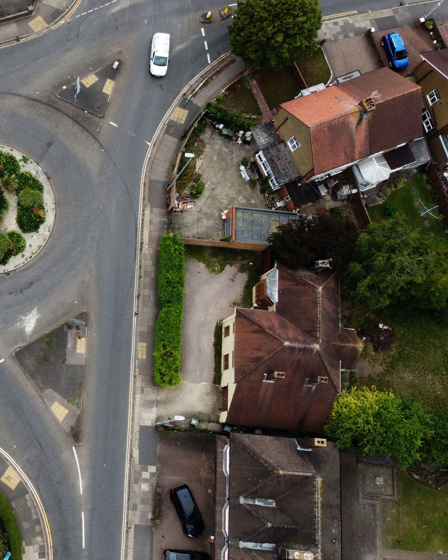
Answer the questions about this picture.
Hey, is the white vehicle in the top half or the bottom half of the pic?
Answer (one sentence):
The white vehicle is in the top half of the image.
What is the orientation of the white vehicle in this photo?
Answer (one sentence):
Seen from above, the white vehicle lies vertically.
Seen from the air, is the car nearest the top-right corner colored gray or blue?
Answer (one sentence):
The car nearest the top-right corner is blue.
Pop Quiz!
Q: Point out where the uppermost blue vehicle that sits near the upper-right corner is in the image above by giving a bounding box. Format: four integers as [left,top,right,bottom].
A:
[382,33,409,70]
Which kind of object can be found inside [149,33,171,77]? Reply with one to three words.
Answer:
vehicle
